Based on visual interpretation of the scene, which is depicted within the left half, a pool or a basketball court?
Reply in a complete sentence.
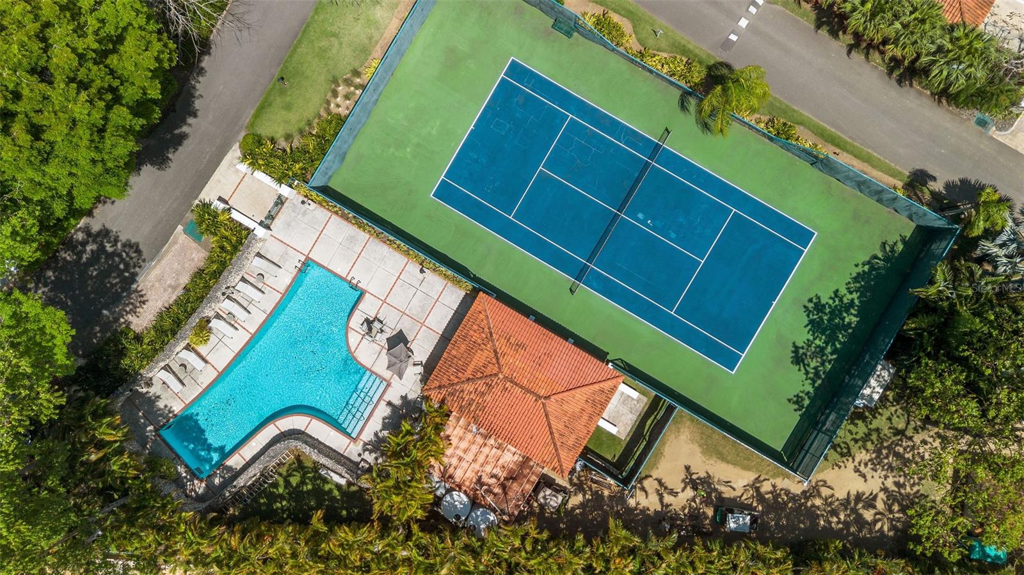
You can see a pool within the left half.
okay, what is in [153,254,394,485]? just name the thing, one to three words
swimming pool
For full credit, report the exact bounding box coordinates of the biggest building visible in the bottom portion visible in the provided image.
[421,291,624,524]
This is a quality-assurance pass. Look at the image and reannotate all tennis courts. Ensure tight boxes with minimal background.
[324,0,929,467]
